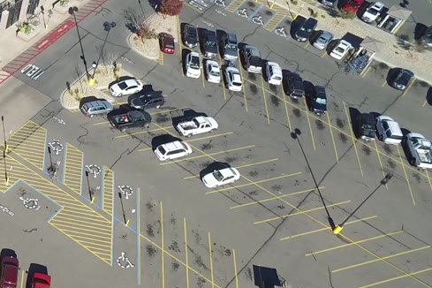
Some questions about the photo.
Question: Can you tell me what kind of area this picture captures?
parking lot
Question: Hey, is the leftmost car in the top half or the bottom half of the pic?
bottom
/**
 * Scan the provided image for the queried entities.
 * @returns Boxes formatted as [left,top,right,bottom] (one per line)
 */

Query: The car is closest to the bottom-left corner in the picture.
[0,255,21,288]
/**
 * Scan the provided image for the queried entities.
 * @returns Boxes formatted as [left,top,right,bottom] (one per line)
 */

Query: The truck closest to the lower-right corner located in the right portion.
[404,129,432,170]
